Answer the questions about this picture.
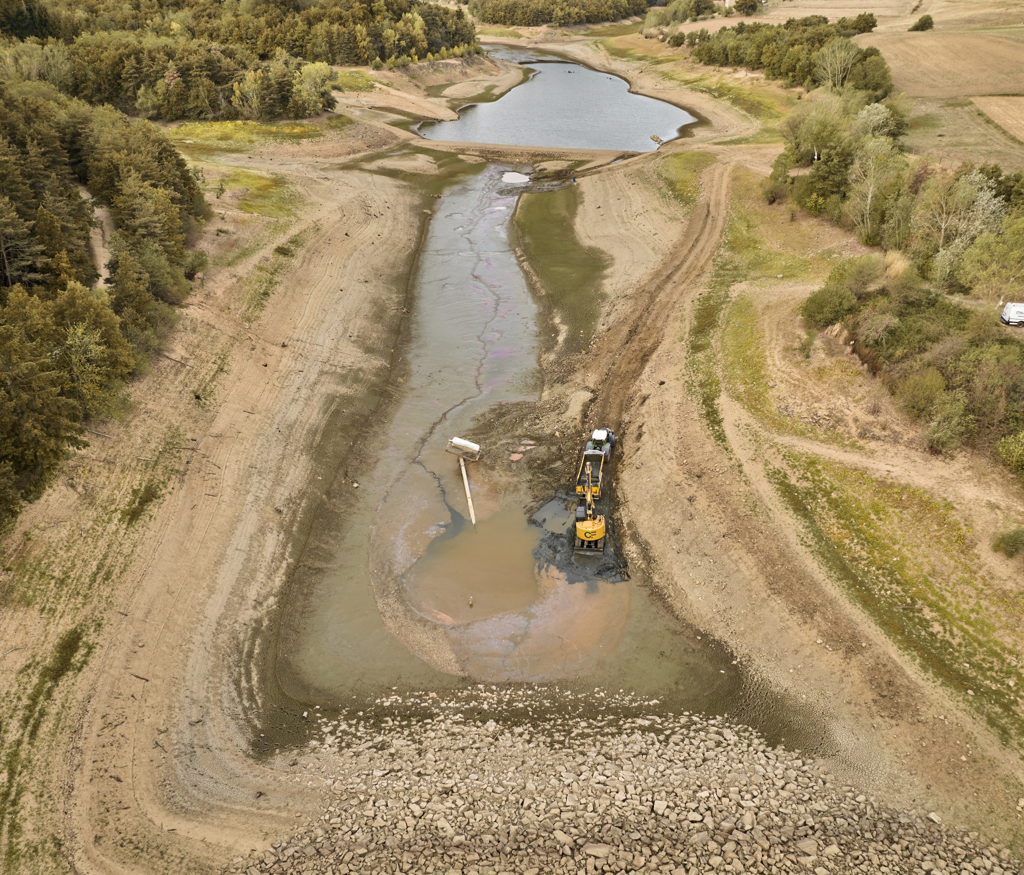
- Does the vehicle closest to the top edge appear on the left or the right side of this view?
right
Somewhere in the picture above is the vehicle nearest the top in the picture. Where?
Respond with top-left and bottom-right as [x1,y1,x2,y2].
[999,298,1024,323]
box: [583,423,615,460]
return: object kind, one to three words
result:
work vehicle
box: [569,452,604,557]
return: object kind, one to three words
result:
work vehicle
